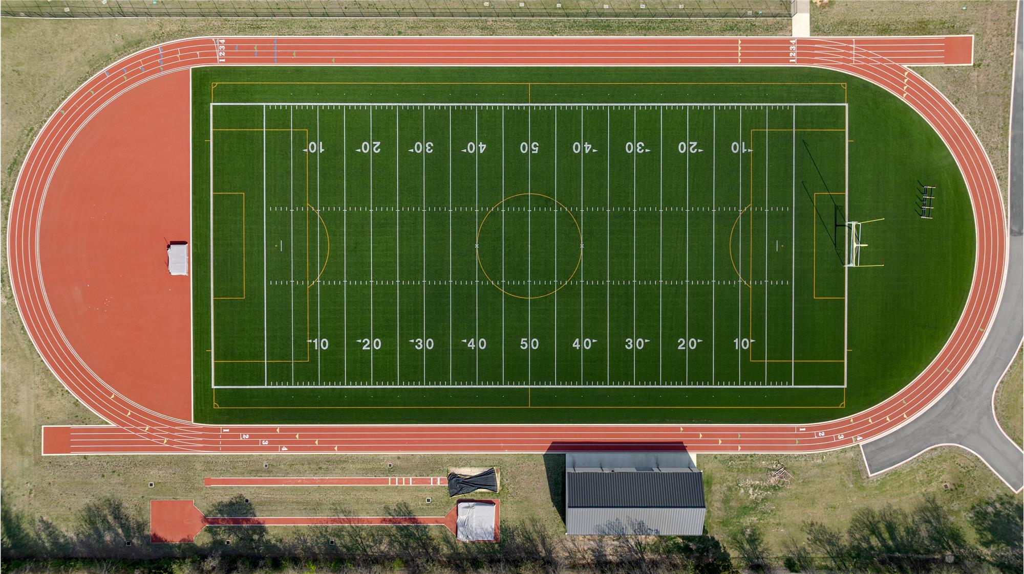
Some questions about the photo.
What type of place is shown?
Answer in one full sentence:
This image shows a sports ground.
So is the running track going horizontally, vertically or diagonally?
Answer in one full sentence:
Seen from above, the running track lies horizontally.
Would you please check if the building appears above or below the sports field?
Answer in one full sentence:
Looking at the photo, you'll find the building below the sports field.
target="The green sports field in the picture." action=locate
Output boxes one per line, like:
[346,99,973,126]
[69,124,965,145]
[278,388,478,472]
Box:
[192,66,975,424]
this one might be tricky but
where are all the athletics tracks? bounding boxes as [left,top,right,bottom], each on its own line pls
[8,34,1006,456]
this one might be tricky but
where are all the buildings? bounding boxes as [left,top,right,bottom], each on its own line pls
[565,465,708,538]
